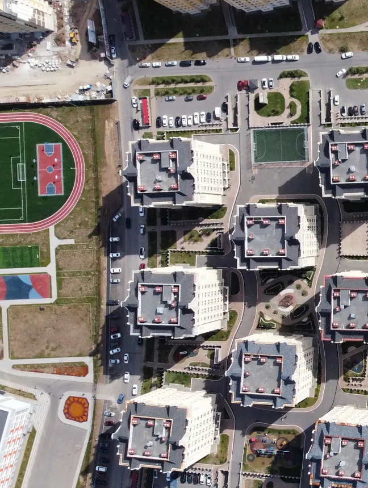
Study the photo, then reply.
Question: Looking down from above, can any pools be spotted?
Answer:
No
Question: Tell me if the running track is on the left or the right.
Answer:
left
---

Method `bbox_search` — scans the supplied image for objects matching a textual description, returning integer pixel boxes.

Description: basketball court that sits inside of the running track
[29,143,63,196]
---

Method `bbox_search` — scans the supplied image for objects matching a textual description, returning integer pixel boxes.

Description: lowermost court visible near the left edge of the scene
[0,274,50,299]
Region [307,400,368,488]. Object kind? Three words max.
building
